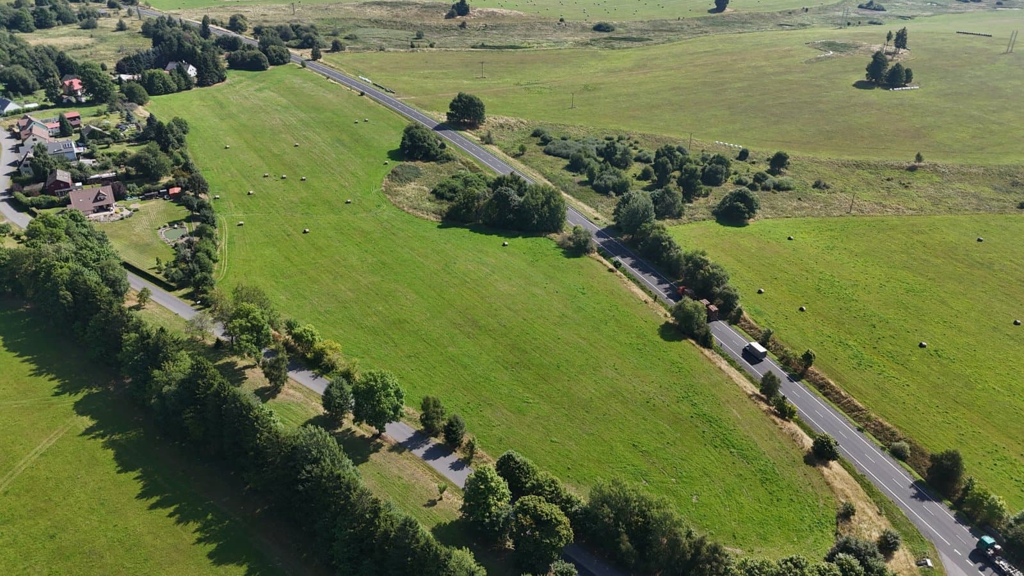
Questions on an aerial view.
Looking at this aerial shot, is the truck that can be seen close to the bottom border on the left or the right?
right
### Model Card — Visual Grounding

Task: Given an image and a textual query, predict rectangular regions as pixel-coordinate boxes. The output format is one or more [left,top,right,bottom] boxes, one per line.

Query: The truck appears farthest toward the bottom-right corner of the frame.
[970,534,1020,576]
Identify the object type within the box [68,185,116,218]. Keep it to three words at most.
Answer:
house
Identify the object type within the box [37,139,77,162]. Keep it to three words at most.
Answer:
house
